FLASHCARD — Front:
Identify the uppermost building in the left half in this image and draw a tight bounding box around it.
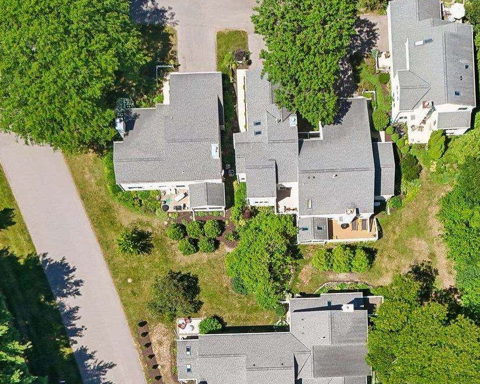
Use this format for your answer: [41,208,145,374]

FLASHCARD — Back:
[114,71,225,210]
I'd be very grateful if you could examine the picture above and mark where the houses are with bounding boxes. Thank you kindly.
[176,292,369,384]
[233,70,395,245]
[114,71,225,210]
[386,0,476,133]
